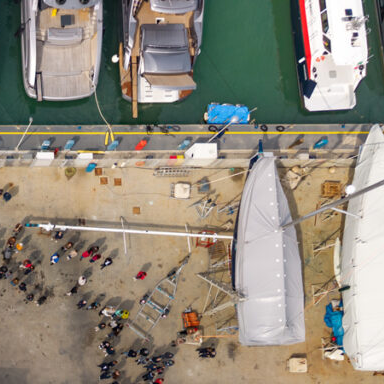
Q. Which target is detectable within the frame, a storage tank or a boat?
boat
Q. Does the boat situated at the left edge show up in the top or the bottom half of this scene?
top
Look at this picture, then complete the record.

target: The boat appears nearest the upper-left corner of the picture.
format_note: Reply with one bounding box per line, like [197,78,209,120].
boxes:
[17,0,100,102]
